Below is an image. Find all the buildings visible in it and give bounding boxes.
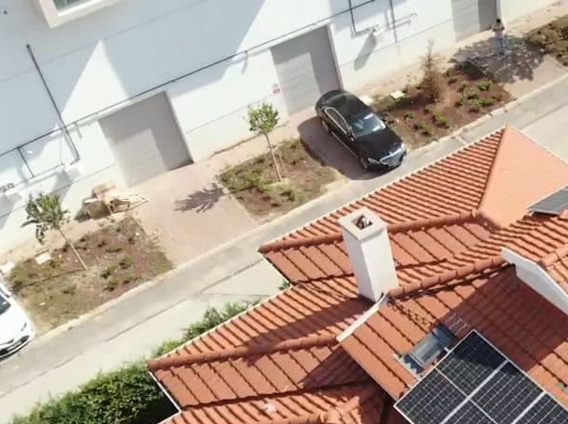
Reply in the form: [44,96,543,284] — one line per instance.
[0,0,548,243]
[135,121,568,424]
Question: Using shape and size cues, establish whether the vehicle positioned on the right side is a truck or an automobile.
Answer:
automobile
